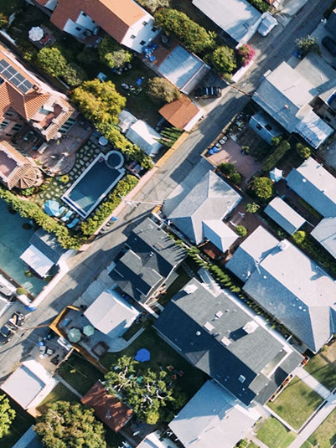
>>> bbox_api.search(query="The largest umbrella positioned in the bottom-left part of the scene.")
[67,327,83,343]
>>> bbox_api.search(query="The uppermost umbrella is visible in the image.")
[28,26,46,42]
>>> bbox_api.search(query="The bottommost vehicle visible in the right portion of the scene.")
[195,85,222,98]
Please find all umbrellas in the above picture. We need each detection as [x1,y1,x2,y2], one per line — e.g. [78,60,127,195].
[83,324,95,336]
[270,167,284,182]
[45,199,61,216]
[67,327,83,343]
[28,26,46,42]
